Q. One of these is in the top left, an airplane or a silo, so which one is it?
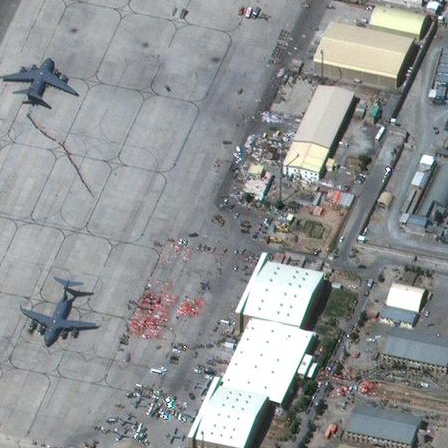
airplane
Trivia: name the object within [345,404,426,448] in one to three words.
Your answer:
building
